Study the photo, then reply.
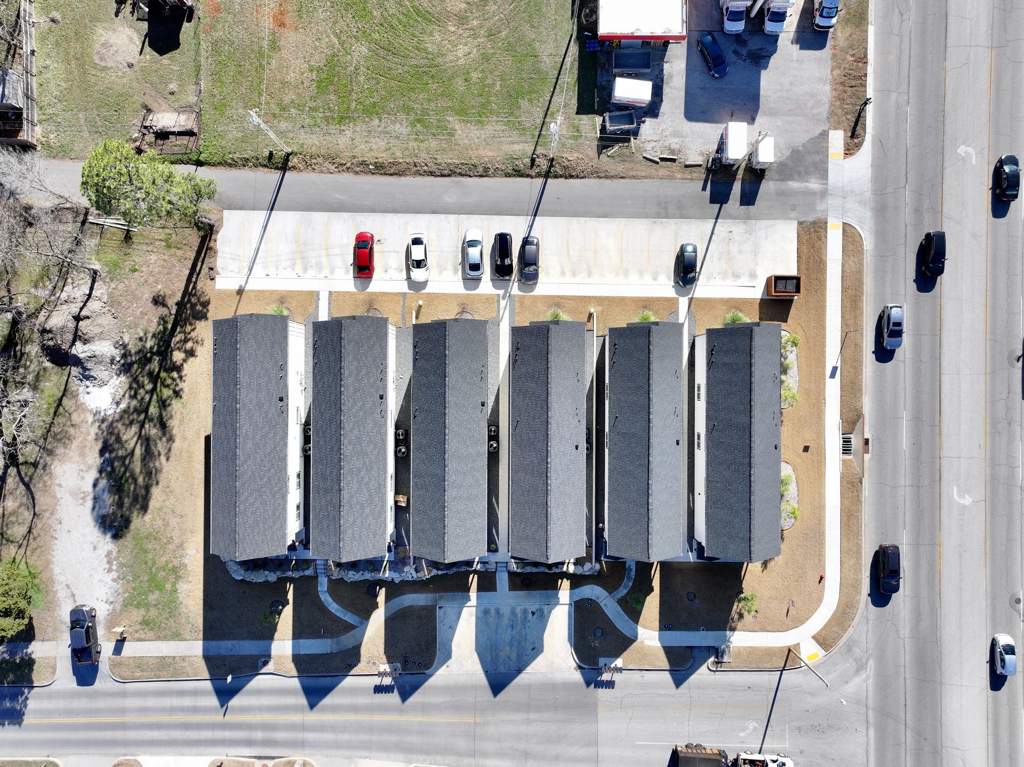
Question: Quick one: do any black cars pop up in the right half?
Yes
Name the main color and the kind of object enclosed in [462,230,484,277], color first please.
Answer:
white car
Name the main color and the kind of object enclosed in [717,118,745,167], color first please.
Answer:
white trailer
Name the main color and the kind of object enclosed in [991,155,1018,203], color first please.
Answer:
black car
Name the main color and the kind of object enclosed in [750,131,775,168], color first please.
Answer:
white trailer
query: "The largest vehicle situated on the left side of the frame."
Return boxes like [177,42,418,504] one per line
[70,605,102,665]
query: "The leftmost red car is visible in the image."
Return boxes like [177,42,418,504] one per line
[353,233,375,279]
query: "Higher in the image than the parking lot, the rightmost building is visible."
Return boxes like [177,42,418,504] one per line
[597,0,688,51]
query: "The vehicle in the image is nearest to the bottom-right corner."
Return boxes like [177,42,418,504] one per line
[988,633,1015,676]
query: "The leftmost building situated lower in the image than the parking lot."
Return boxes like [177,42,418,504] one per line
[210,313,305,561]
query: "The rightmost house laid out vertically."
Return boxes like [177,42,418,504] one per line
[693,320,782,563]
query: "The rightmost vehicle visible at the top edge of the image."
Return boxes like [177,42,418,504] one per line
[811,0,842,35]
